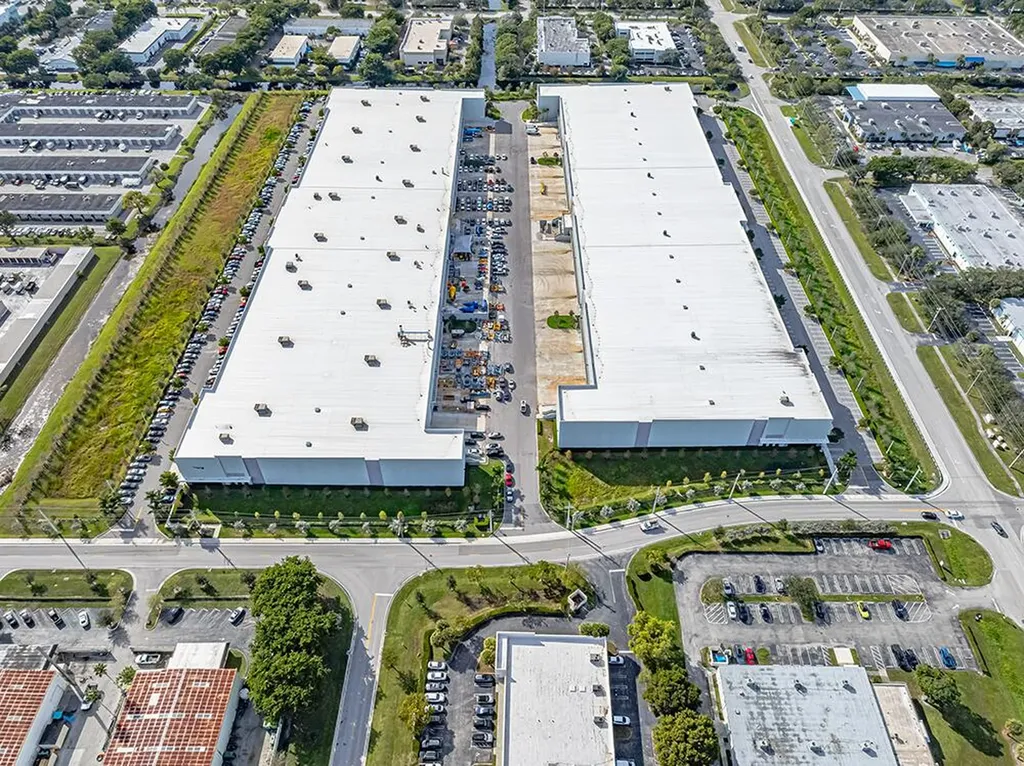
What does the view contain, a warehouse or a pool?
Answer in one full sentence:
The one in the frame is a warehouse.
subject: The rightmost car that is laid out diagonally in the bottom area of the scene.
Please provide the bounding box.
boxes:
[990,521,1007,535]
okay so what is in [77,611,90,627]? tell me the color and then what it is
white vehicle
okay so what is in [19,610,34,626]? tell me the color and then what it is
gray car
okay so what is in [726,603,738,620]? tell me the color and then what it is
white vehicle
